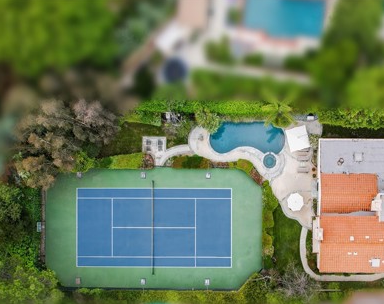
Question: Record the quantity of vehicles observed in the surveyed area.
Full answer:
There are no vehicles in the image.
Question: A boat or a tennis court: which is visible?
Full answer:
This aerial view contains a tennis court.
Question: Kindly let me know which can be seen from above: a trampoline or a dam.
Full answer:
This aerial view contains a trampoline.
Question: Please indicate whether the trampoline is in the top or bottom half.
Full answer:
The trampoline is in the top half of the image.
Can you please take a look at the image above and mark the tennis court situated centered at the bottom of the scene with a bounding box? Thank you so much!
[45,168,261,289]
